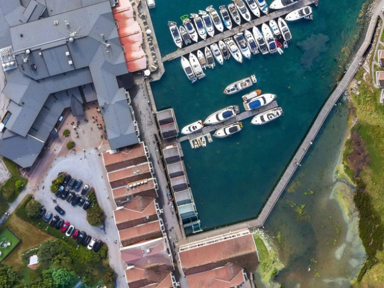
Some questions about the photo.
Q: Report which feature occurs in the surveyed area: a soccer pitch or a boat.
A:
boat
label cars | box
[56,218,64,229]
[61,189,69,199]
[38,207,47,218]
[56,185,65,197]
[68,178,77,189]
[77,196,86,207]
[66,225,75,236]
[55,205,66,214]
[45,211,53,222]
[75,180,83,191]
[51,215,59,226]
[66,192,76,202]
[71,195,81,205]
[72,228,81,239]
[61,222,69,232]
[83,235,91,246]
[83,199,91,209]
[81,184,90,195]
[78,232,86,242]
[94,240,102,251]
